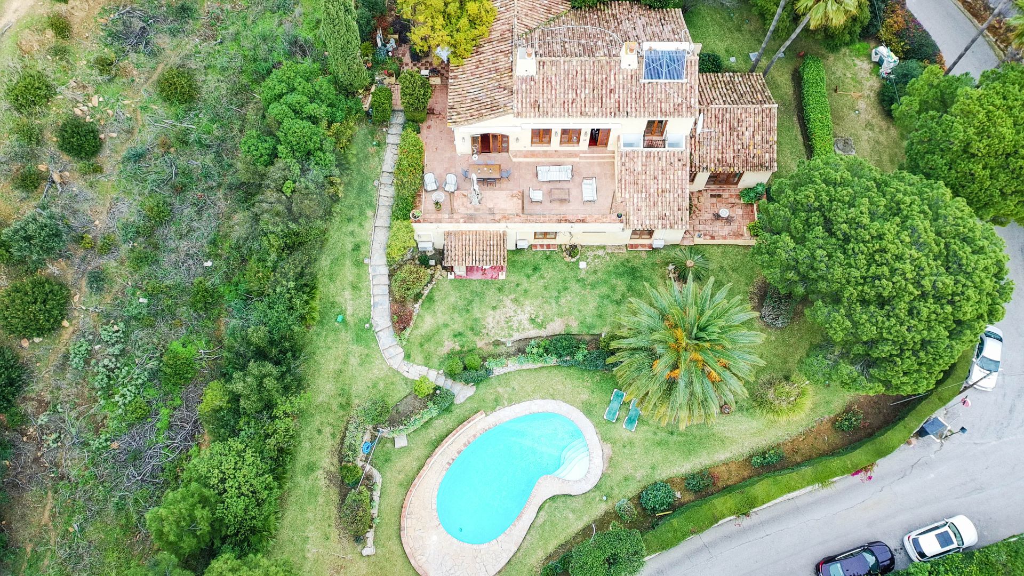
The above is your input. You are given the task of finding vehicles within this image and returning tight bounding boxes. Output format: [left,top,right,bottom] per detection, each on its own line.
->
[818,540,900,576]
[970,323,1014,391]
[906,515,985,565]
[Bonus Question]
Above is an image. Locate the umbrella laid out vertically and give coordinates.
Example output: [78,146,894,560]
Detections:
[470,181,483,209]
